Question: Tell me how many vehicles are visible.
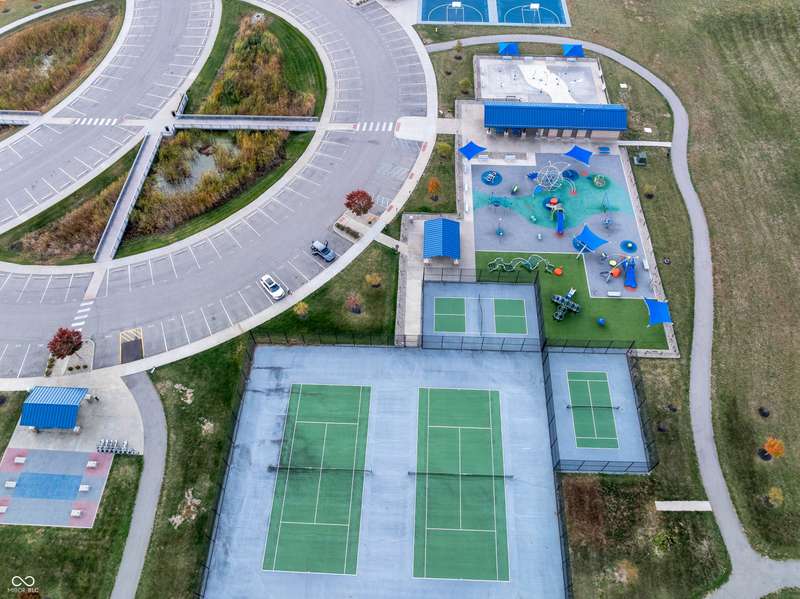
two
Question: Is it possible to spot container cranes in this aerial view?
No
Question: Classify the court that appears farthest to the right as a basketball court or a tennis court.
tennis court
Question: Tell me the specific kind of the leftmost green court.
tennis court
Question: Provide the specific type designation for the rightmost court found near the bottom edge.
tennis court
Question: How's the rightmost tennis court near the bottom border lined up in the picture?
from top to bottom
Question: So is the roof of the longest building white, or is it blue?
blue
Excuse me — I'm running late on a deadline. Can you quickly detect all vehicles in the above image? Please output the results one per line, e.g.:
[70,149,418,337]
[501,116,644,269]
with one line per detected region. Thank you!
[261,274,287,302]
[303,238,336,262]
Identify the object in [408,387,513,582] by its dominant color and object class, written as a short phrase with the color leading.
green tennis court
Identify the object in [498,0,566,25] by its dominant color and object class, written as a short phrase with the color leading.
blue basketball court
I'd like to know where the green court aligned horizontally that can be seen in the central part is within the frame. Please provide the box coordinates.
[434,291,528,336]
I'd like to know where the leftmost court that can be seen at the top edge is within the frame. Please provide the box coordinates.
[422,0,488,23]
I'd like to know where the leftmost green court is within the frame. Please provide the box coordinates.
[262,383,373,575]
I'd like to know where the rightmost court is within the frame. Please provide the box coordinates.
[566,370,620,449]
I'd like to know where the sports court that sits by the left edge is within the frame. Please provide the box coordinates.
[0,448,114,527]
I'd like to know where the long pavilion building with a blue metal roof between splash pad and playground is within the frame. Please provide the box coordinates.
[484,104,629,141]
